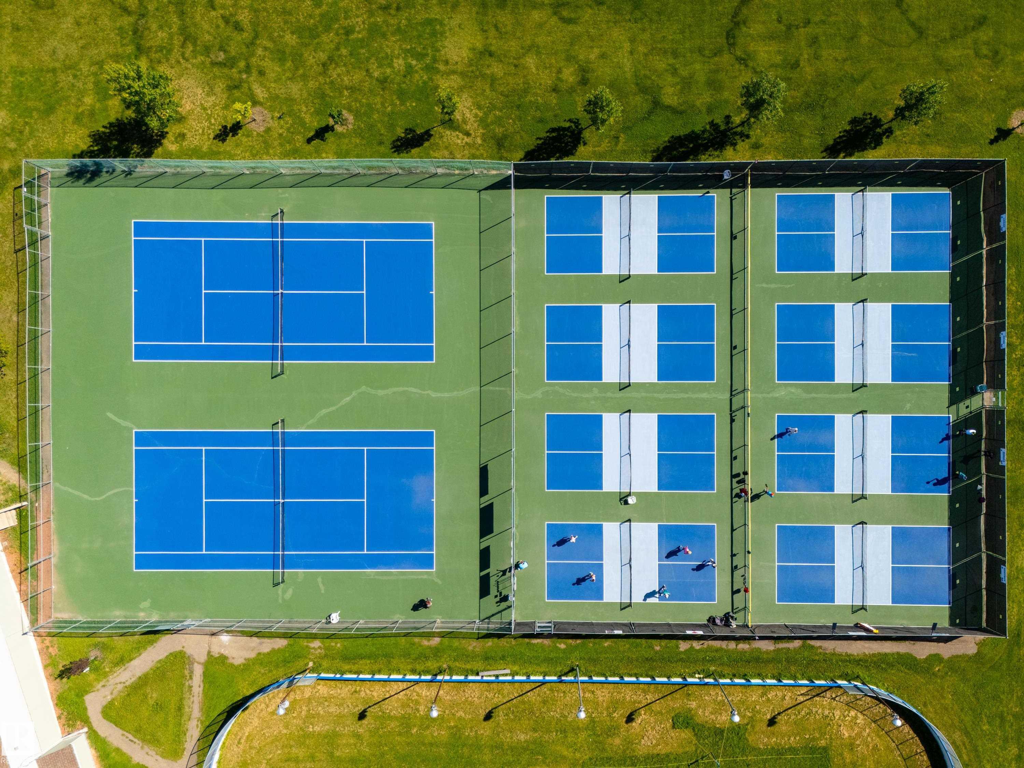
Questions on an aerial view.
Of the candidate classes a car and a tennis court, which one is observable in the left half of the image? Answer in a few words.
tennis court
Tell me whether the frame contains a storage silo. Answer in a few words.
No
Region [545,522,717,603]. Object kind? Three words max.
sports court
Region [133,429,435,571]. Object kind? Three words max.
tennis court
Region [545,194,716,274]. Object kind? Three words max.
sports court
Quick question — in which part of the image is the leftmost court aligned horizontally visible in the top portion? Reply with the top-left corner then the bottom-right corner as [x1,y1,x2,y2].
[132,220,435,362]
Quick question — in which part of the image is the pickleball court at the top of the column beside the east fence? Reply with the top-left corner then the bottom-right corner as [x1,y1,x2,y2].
[776,192,952,273]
